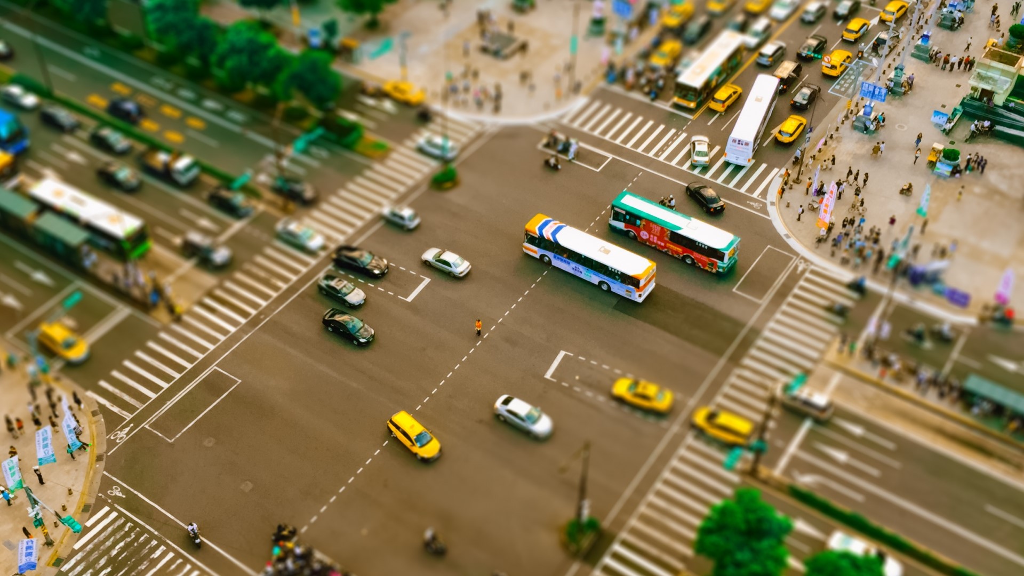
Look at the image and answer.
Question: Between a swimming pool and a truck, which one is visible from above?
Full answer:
It is a truck that can be seen here.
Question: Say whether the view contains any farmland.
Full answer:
No, the scene doesn't show any farmland.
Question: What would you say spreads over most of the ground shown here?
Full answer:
The largest share of the image is taken up by paved ground.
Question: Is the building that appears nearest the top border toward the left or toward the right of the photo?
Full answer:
The building that appears nearest the top border appears in the right half of the scene.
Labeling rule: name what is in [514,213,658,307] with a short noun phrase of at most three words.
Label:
bus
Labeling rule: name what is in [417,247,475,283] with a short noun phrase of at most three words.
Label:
car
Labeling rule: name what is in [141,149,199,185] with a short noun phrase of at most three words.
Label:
truck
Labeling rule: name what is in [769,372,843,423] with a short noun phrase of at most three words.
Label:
vehicle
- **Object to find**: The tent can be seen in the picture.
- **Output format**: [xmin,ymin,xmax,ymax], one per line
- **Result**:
[903,251,942,292]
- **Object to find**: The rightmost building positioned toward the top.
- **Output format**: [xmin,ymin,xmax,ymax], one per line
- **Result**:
[959,42,1024,113]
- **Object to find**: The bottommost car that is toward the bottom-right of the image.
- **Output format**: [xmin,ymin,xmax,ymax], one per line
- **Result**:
[828,527,912,576]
